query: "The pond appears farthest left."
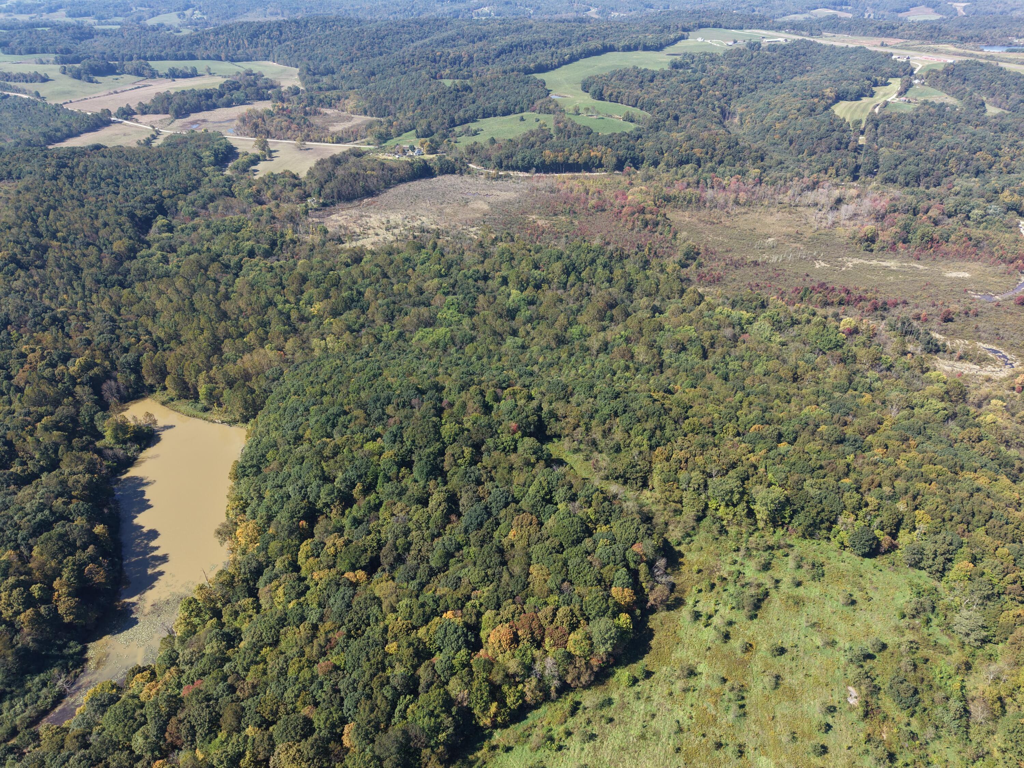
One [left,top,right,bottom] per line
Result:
[0,399,246,768]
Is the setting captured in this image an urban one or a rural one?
rural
